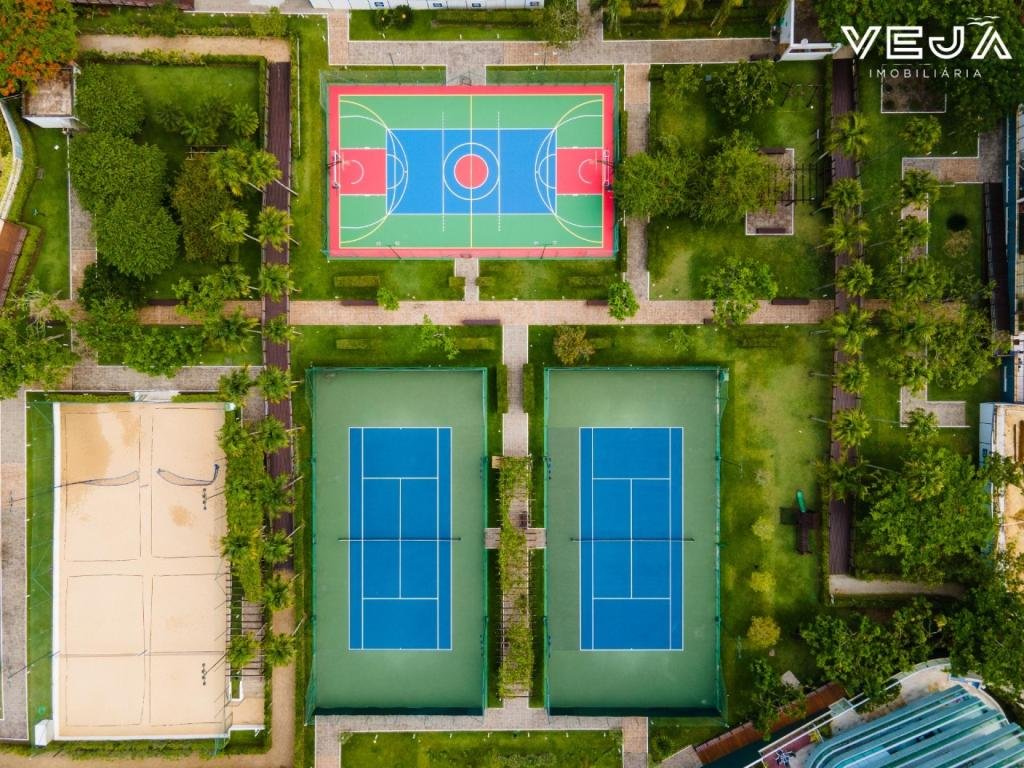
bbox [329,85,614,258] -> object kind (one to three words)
sports court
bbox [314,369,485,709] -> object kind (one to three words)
tennis court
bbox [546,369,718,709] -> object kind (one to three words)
tennis court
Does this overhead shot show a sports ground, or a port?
sports ground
